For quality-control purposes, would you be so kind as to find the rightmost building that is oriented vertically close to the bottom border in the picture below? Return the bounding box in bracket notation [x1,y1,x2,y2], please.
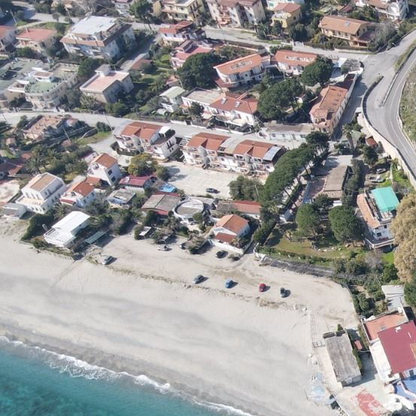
[362,311,416,414]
